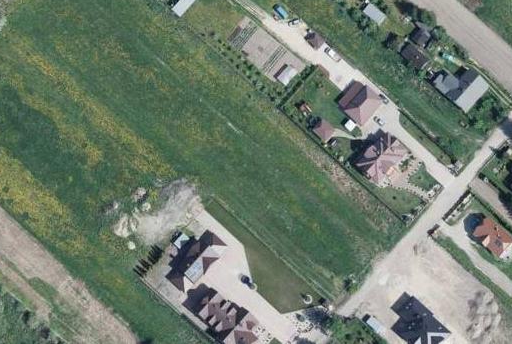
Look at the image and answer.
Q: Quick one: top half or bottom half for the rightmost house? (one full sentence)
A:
The rightmost house is in the bottom half of the image.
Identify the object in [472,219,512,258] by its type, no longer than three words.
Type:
house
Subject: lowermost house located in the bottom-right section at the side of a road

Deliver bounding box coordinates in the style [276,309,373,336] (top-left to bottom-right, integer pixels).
[387,292,451,344]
